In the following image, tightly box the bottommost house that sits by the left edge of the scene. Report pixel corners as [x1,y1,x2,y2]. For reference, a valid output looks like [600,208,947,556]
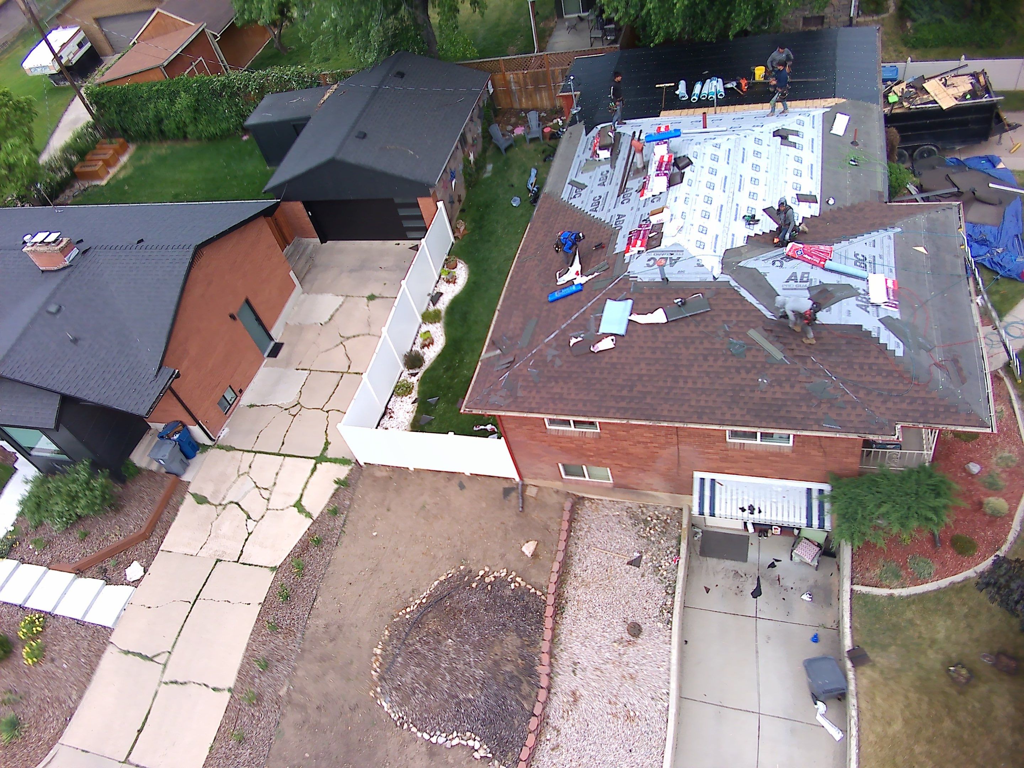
[0,167,308,491]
